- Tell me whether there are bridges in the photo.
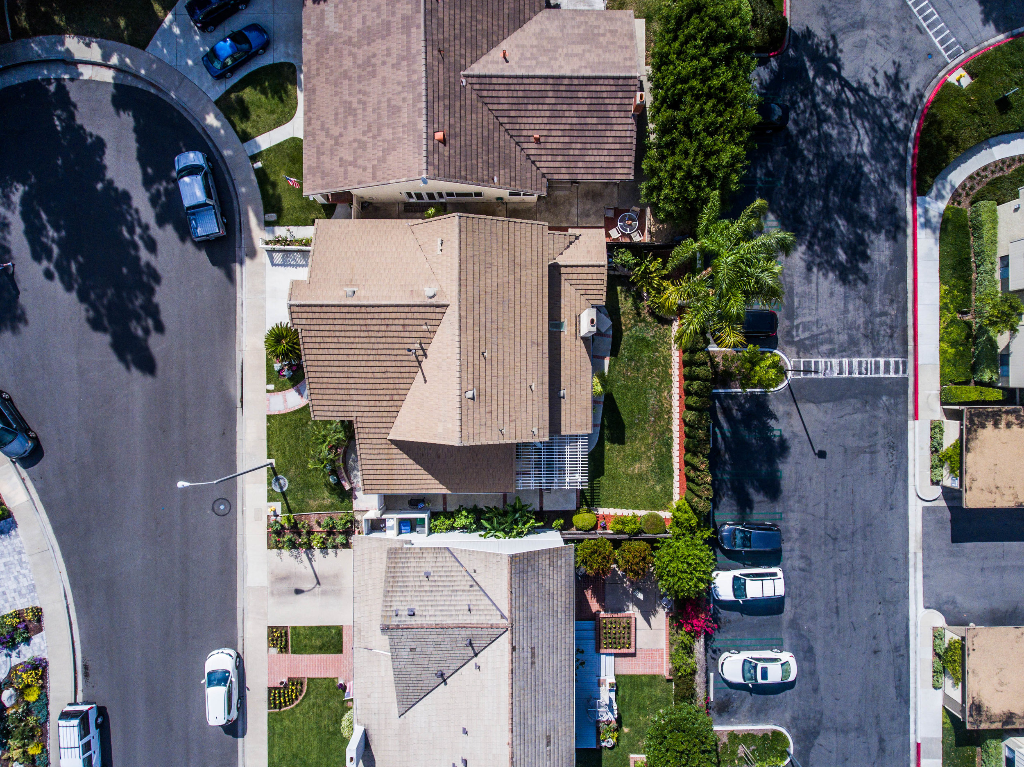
No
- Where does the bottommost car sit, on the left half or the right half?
left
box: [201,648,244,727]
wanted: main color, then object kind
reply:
white car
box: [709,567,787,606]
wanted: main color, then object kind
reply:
white car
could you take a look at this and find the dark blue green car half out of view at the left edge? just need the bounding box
[0,383,41,460]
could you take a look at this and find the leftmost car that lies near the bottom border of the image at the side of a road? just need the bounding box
[56,698,107,767]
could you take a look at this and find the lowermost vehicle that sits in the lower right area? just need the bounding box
[716,649,797,691]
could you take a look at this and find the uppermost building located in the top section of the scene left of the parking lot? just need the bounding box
[303,0,646,203]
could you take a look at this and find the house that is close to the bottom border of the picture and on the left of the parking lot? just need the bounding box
[346,530,576,767]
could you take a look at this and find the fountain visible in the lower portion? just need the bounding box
[271,476,288,493]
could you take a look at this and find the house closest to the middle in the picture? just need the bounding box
[286,211,609,497]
